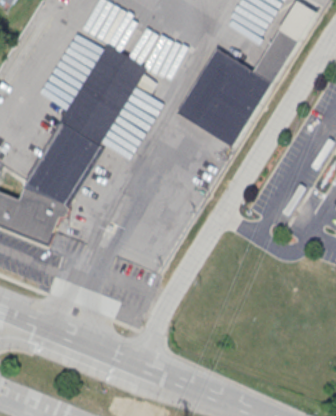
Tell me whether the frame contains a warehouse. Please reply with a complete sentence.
Yes, the photo shows a warehouse.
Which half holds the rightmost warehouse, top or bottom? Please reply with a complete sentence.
The rightmost warehouse sits in the top half of the picture.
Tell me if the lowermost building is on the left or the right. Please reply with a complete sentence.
It is on the left.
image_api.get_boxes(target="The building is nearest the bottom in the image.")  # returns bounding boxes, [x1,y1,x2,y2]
[0,188,70,245]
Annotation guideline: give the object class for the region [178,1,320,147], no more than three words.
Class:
warehouse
